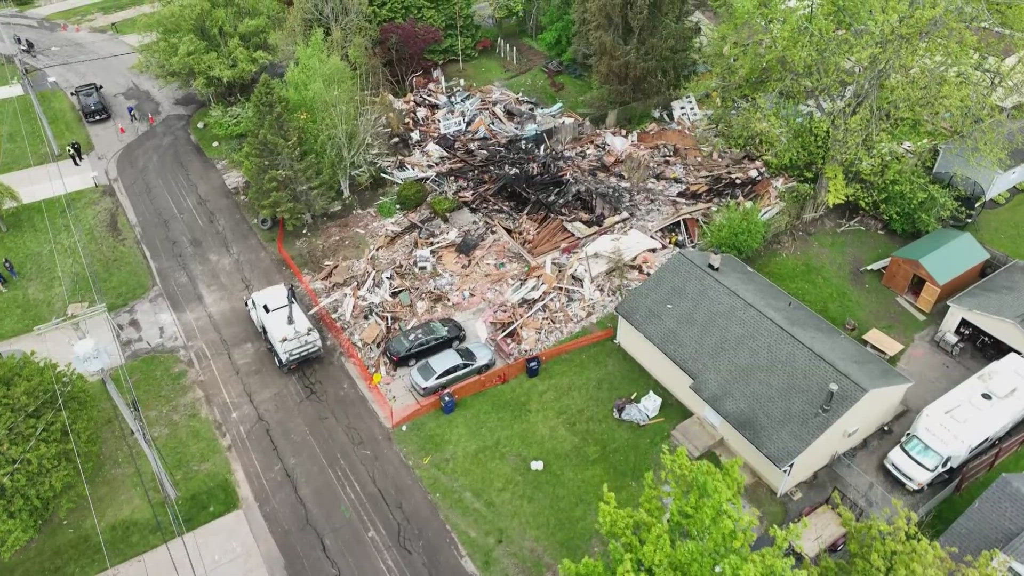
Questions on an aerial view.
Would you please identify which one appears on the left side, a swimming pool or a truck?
truck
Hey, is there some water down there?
No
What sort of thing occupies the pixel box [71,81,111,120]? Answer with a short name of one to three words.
truck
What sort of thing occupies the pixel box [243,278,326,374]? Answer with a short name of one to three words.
truck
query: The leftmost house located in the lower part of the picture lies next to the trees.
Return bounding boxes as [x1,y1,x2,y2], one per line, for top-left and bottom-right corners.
[609,248,920,498]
